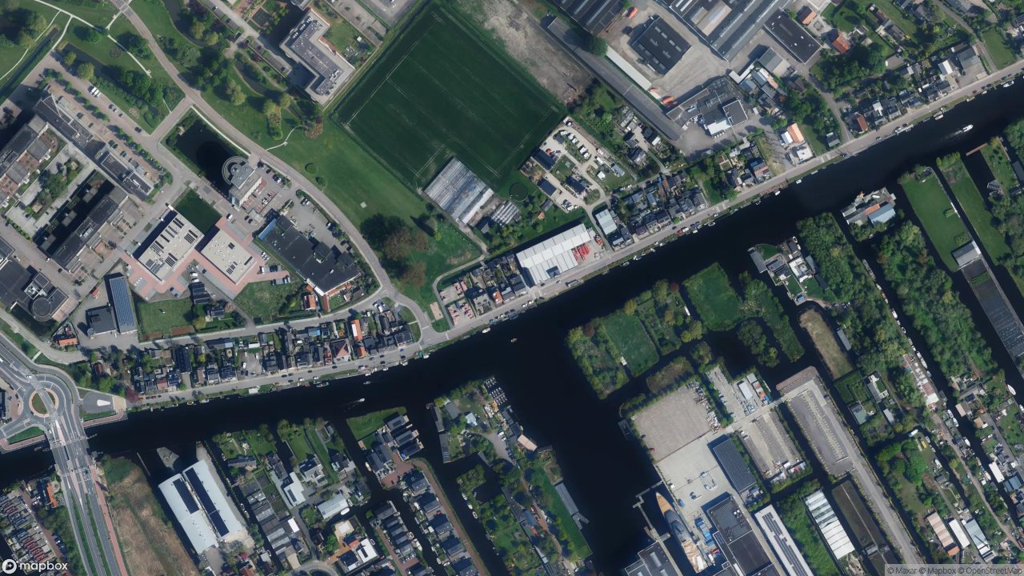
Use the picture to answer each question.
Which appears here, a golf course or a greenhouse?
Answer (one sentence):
Of the two, only a greenhouse appears.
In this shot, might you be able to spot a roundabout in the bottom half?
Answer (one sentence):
Yes, a roundabout is visible in the bottom half.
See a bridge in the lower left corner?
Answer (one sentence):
Yes, there is a bridge in the lower left corner.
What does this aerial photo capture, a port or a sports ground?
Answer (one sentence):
What you see here is a port.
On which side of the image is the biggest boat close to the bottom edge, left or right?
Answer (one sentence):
It is on the right.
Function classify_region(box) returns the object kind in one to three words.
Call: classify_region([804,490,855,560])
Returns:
greenhouse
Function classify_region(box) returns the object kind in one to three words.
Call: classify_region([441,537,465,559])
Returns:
house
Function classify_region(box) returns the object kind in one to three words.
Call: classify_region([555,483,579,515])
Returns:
boat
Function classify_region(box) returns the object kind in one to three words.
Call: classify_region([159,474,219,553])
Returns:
building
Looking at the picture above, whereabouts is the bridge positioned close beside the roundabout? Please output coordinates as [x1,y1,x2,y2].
[48,432,102,468]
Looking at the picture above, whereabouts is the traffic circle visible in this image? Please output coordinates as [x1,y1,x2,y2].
[18,377,70,428]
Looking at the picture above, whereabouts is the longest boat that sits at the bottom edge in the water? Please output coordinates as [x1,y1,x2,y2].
[656,493,706,571]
